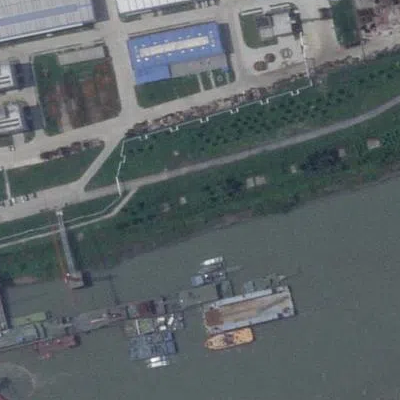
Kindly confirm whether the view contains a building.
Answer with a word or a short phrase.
Yes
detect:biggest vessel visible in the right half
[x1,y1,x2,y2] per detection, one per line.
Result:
[203,286,295,333]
